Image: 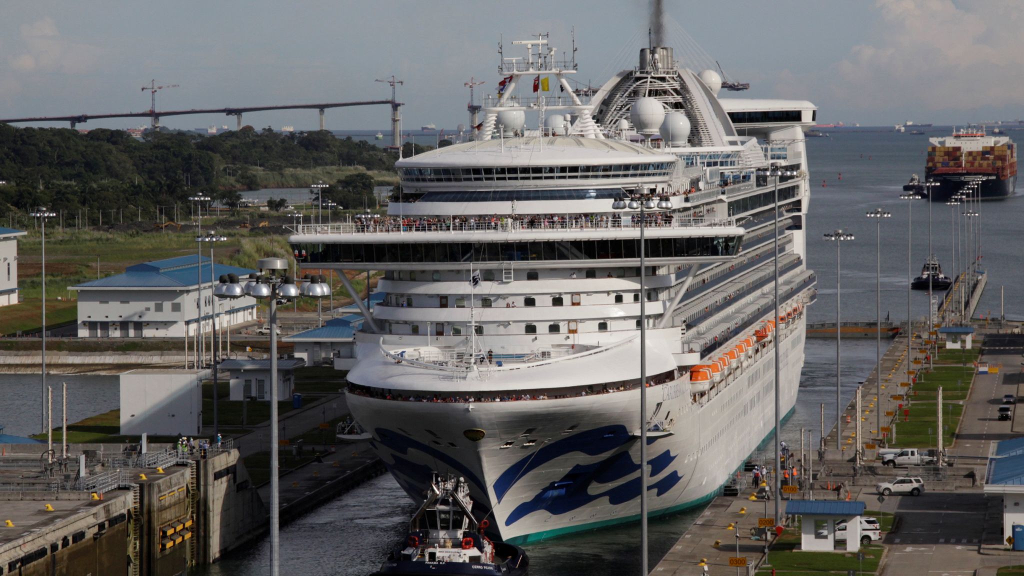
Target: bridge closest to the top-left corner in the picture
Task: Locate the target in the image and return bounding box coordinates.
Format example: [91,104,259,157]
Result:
[0,99,405,165]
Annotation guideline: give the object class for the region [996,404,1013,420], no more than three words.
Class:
car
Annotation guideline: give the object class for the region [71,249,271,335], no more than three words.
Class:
building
